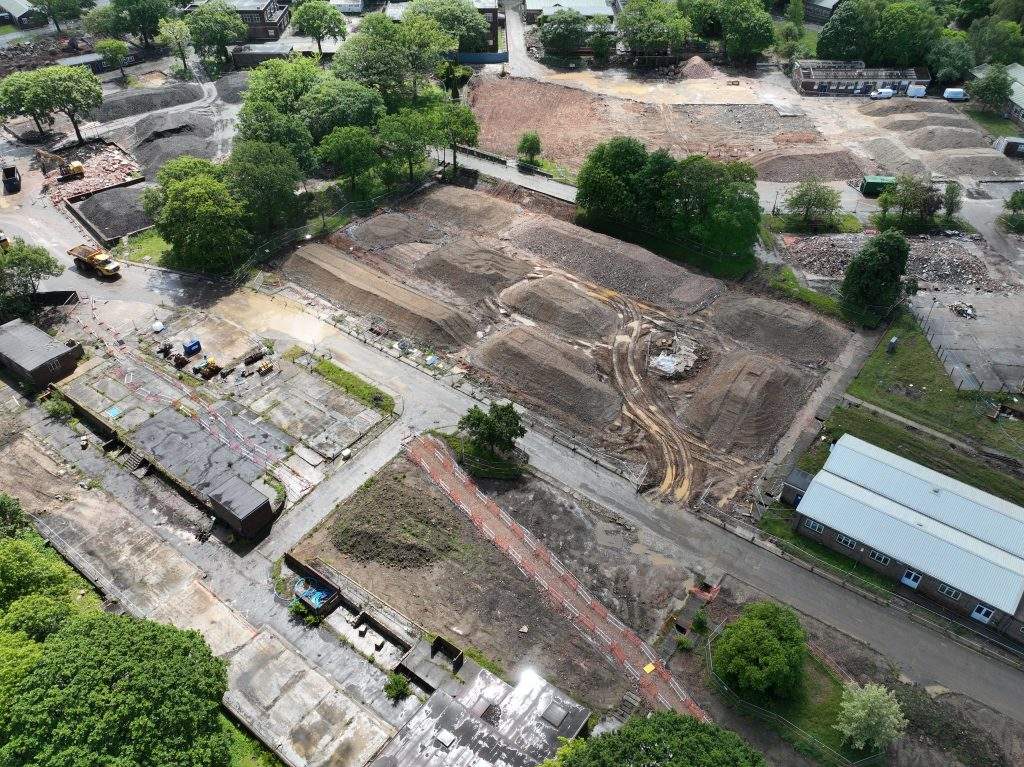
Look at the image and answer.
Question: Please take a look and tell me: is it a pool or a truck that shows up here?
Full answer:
I can see a truck in this picture.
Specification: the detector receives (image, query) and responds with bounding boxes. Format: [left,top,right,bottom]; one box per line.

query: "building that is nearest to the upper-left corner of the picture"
[0,3,50,31]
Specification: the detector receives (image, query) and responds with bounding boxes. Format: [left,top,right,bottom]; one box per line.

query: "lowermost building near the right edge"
[795,431,1024,654]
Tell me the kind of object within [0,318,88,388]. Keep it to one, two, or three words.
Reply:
building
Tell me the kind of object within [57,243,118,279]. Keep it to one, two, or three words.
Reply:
truck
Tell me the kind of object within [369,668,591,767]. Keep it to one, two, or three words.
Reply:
building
